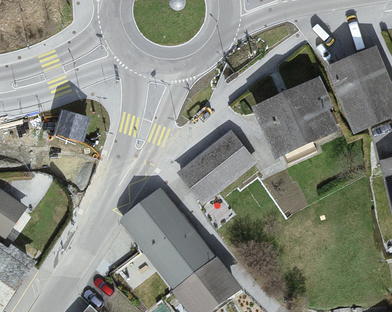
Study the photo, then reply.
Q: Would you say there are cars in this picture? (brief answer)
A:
Yes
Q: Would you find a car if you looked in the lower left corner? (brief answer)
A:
Yes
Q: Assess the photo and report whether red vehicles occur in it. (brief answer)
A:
Yes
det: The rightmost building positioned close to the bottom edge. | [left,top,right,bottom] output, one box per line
[172,256,242,312]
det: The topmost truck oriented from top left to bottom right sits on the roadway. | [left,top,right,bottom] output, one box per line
[310,22,333,46]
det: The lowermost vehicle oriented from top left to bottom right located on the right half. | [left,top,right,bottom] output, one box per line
[314,41,332,63]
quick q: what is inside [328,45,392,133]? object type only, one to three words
house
